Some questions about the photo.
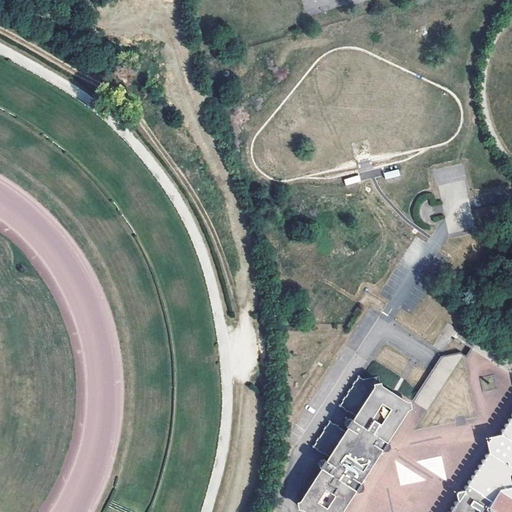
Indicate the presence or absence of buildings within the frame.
Yes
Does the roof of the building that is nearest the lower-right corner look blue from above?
No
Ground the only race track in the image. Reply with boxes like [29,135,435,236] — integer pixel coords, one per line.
[0,173,124,512]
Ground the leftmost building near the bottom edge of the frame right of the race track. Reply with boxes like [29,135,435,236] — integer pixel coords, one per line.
[298,376,412,512]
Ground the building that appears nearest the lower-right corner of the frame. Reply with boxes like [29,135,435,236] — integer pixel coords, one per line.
[448,410,512,512]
